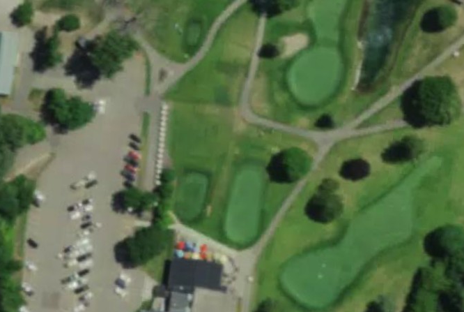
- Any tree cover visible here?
Yes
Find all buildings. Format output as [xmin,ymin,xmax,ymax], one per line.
[146,260,236,312]
[0,31,17,96]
